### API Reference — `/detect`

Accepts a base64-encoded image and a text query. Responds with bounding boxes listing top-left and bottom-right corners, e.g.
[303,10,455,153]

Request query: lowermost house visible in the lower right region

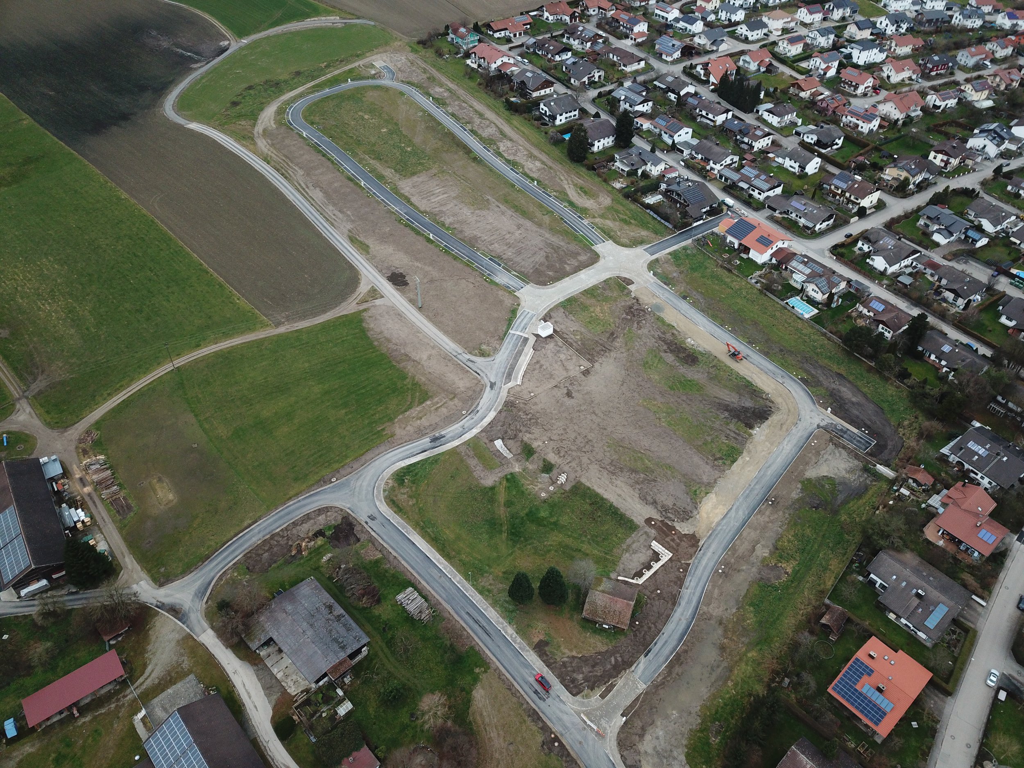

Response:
[777,730,851,768]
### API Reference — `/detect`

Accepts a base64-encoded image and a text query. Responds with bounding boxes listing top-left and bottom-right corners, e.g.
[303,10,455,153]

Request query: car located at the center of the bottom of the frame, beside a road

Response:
[535,670,552,692]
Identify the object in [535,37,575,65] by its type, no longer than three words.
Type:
house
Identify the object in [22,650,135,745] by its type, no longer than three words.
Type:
shed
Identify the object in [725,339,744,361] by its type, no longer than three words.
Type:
work vehicle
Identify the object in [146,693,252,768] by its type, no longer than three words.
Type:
barn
